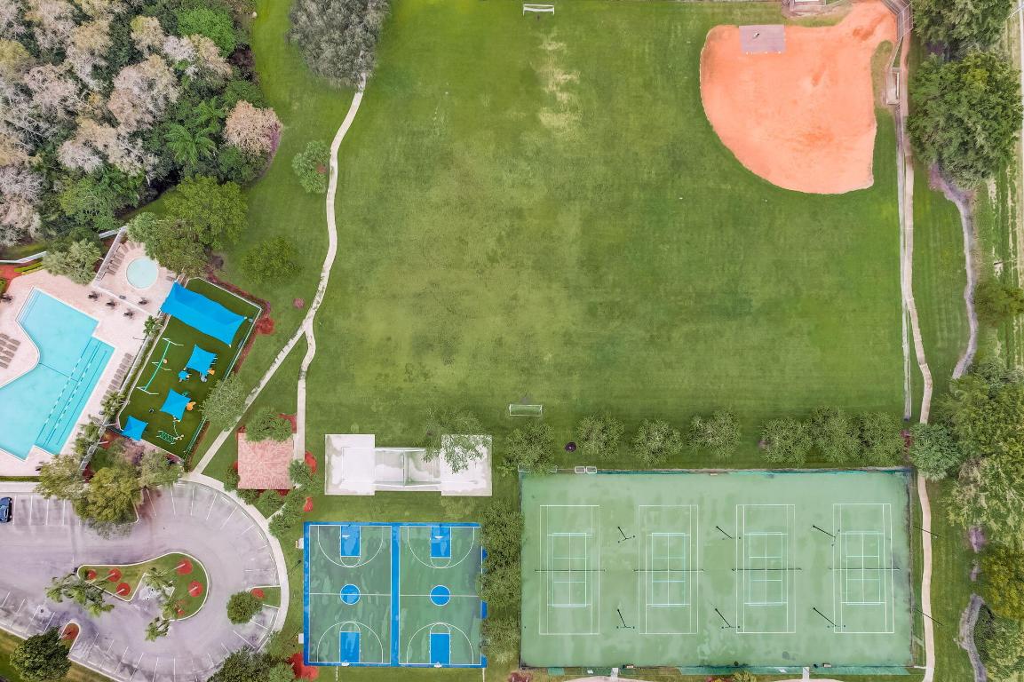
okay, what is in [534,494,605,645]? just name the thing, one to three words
tennis court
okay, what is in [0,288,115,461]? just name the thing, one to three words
swimming pool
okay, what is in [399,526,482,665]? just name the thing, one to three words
basketball court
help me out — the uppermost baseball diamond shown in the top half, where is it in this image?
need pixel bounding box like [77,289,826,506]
[699,0,898,195]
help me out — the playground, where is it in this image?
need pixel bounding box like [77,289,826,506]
[117,277,260,460]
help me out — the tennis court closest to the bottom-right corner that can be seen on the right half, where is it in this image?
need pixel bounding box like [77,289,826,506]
[827,493,901,644]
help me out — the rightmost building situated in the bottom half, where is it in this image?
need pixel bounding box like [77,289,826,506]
[238,434,295,489]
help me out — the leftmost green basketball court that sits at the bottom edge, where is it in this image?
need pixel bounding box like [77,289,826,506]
[309,525,391,663]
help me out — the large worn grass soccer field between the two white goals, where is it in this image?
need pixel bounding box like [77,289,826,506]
[339,7,857,416]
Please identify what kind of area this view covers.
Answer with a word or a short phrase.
sports ground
